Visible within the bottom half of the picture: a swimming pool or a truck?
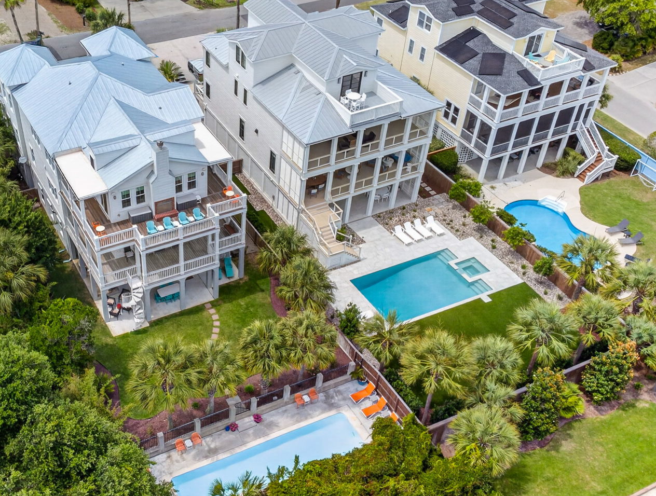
swimming pool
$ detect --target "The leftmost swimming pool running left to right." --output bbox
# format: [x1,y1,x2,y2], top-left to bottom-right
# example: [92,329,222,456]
[156,404,391,496]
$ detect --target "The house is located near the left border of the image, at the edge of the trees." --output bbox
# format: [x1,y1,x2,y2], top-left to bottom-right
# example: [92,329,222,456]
[0,24,250,324]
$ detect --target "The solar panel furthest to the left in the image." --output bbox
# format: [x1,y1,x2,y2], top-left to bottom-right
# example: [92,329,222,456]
[389,4,411,22]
